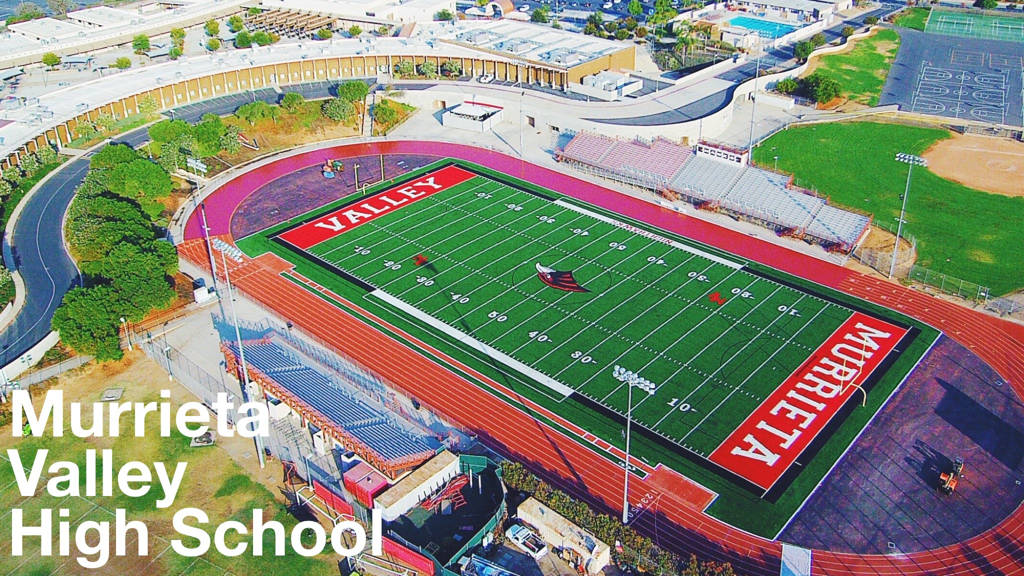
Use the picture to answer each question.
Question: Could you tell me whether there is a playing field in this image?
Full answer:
Yes, there's a playing field down there.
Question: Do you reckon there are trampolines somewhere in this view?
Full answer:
No, there appears to be no trampoline in this shot.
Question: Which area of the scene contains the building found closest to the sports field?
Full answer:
The building found closest to the sports field is in the top part of the image.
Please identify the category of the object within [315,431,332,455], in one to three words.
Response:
shed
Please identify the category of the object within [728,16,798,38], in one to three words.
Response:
swimming pool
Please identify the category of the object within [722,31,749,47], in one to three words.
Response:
building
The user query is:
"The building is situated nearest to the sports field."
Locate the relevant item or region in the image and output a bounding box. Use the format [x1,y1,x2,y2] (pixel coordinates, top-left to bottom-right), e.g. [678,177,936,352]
[441,102,499,132]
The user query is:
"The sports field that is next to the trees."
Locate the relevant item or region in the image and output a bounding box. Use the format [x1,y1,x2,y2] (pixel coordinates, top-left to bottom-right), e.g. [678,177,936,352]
[236,158,946,539]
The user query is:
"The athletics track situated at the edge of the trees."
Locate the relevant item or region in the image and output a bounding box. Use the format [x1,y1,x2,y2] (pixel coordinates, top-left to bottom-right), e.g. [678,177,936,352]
[179,138,1024,576]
